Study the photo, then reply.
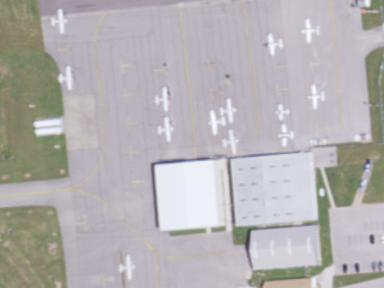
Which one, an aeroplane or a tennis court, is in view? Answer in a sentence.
This aerial view contains an aeroplane.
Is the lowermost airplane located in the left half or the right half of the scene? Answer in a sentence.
The lowermost airplane sits on the left side.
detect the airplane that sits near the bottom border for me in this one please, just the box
[117,254,137,280]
